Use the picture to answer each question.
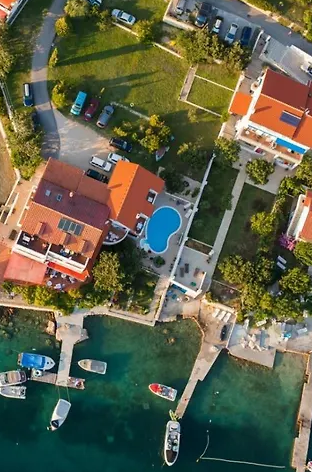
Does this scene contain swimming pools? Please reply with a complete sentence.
Yes, there's a swimming pool down there.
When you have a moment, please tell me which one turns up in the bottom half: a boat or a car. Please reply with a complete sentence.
Visible in the bottom half is a boat.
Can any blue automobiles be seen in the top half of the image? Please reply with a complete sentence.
Yes, the scene does show a blue automobile in the top half of the image.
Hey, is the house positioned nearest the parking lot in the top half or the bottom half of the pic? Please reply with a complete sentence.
It is in the top half that the house positioned nearest the parking lot appears.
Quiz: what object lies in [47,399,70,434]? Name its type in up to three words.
boat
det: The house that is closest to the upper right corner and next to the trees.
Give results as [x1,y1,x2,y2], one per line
[229,68,312,172]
